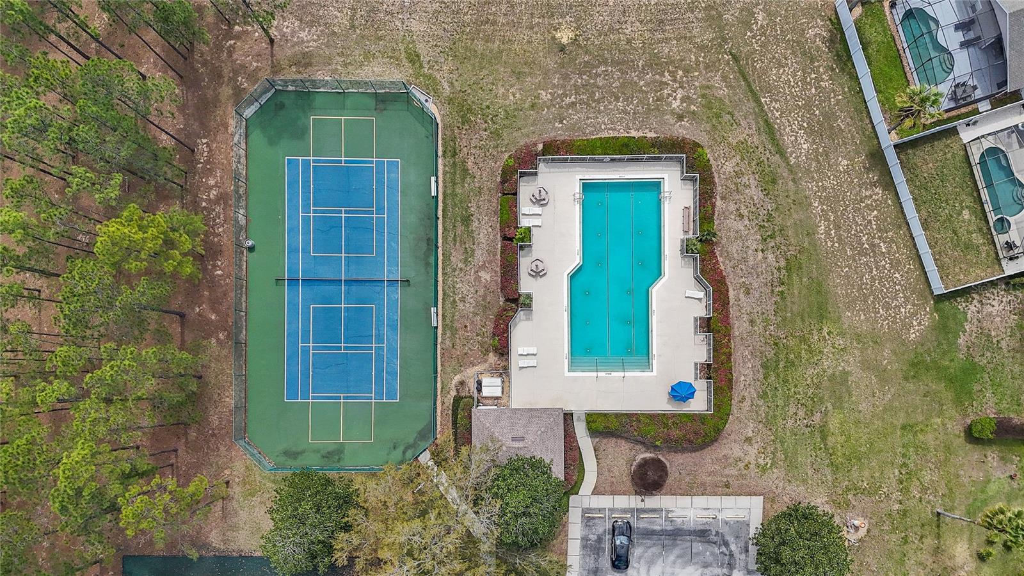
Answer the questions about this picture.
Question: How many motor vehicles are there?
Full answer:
I count just 1 motor vehicle.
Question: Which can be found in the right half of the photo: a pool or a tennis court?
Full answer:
The one visible in the right half of the photo is a pool.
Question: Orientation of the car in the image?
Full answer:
In this picture, the car is oriented vertically.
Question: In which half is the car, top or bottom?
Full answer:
Seen from above, the car lies in the bottom half of the view.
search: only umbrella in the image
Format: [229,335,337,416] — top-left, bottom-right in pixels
[669,380,695,405]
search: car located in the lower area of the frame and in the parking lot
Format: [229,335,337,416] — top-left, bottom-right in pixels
[611,520,634,570]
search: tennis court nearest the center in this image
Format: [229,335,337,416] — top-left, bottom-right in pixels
[246,92,438,467]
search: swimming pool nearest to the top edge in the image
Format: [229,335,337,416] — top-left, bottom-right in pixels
[900,5,956,87]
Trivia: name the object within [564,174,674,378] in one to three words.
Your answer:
swimming pool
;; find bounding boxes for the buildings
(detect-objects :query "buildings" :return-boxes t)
[471,408,565,485]
[972,0,1024,103]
